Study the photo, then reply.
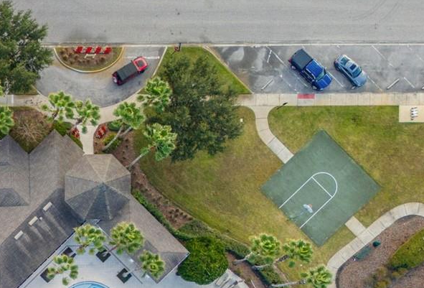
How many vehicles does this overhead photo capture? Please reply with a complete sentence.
I count 3 vehicles.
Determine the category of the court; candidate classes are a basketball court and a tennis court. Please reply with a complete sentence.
It turns out the court is a basketball court.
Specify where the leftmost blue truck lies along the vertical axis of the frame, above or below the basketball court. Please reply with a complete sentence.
You can see the leftmost blue truck above the basketball court in the frame.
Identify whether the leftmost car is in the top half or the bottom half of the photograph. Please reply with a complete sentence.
It is in the top half that the leftmost car appears.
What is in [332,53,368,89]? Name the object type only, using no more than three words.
car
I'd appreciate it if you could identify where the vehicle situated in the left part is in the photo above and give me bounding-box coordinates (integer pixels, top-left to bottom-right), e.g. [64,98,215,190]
[110,56,150,86]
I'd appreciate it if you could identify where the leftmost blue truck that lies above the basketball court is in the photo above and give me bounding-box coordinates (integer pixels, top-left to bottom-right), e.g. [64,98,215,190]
[287,47,333,93]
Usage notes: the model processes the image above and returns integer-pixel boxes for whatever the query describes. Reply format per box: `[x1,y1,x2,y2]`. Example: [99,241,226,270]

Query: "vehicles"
[287,47,333,93]
[332,53,368,89]
[110,56,150,86]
